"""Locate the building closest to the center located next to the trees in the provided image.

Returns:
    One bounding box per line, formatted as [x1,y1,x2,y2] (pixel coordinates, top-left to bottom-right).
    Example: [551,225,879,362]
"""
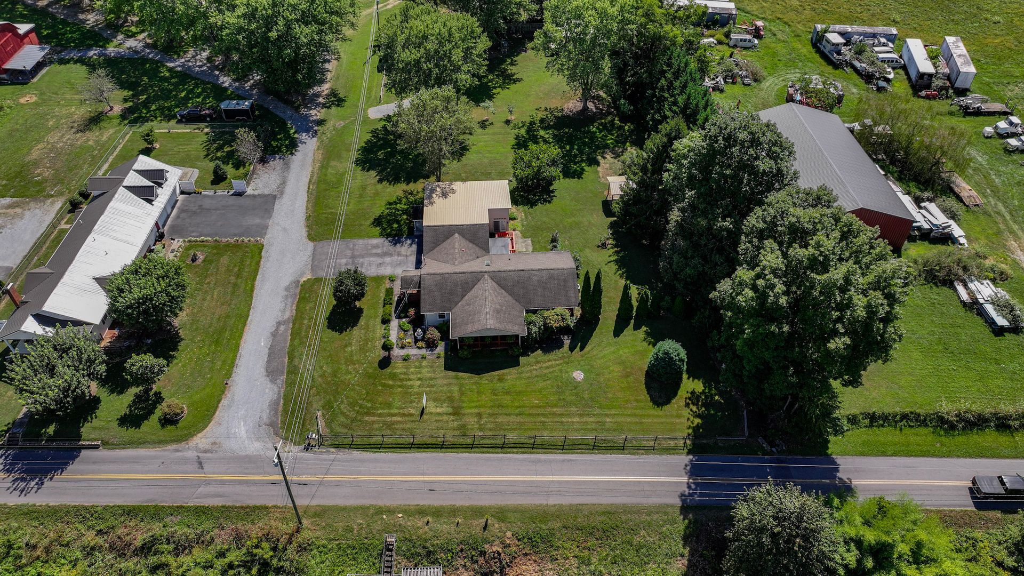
[401,180,578,354]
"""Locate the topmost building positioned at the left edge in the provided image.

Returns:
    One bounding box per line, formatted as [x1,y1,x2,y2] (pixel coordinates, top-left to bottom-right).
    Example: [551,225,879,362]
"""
[0,22,56,95]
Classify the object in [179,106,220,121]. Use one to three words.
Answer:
vehicle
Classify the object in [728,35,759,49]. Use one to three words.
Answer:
vehicle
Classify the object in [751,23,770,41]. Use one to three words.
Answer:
work vehicle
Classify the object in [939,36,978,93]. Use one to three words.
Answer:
trailer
